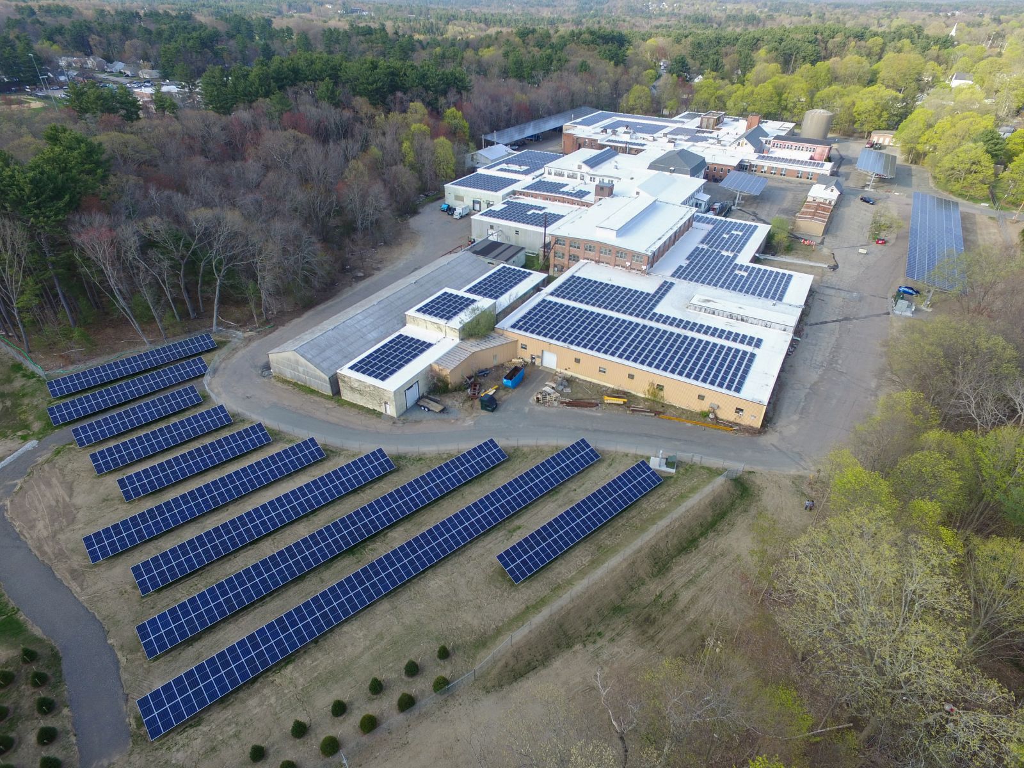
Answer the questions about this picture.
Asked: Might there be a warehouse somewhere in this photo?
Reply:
Yes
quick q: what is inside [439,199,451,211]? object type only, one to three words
vehicle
